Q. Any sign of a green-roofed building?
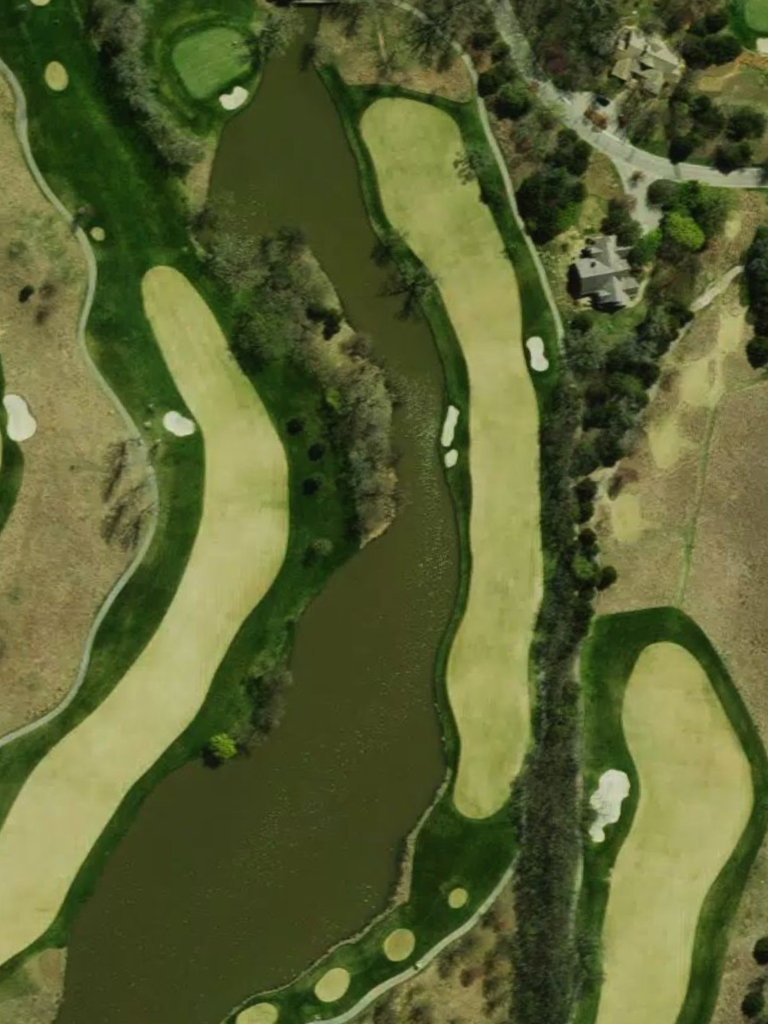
No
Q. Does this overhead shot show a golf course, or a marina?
golf course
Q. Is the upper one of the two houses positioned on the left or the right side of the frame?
right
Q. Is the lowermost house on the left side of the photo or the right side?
right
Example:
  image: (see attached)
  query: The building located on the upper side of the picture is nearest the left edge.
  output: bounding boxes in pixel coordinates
[569,237,640,308]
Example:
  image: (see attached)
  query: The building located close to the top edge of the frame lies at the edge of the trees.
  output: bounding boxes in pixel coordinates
[607,31,681,95]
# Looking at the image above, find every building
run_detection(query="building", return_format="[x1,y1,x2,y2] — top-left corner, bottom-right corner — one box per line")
[607,31,681,95]
[569,237,640,308]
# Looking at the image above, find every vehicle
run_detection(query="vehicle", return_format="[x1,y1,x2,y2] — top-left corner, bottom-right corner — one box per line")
[414,961,422,968]
[619,116,626,129]
[596,95,610,107]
